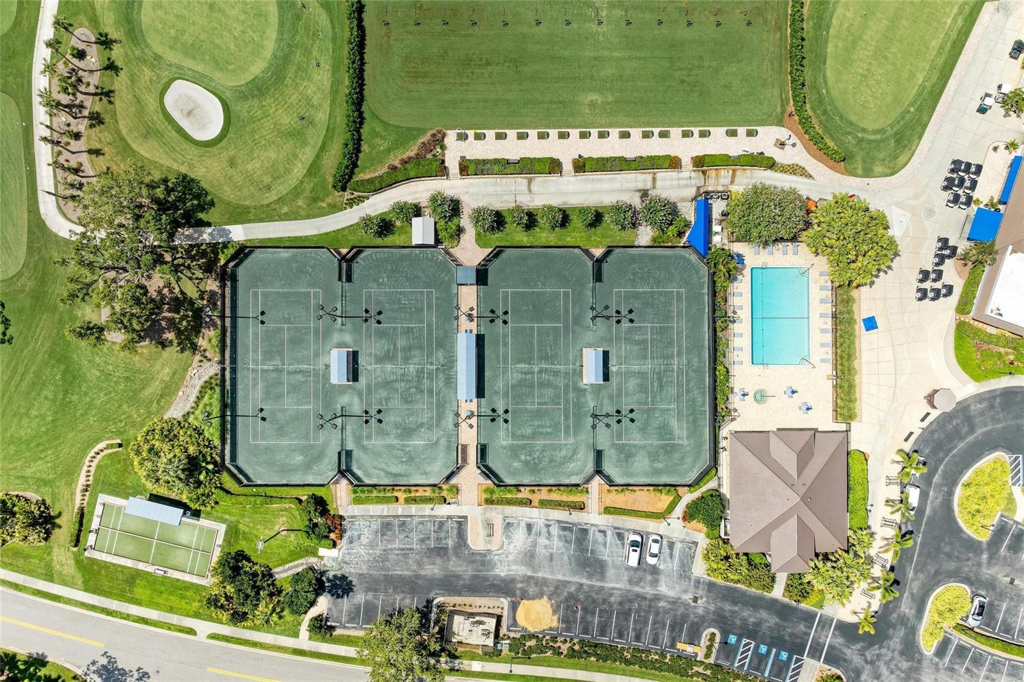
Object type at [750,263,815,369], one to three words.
swimming pool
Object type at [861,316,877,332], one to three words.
umbrella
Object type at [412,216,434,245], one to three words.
shed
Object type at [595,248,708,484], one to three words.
tennis court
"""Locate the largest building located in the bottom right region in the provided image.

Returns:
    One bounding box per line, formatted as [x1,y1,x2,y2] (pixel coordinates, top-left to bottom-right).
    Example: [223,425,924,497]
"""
[727,429,848,572]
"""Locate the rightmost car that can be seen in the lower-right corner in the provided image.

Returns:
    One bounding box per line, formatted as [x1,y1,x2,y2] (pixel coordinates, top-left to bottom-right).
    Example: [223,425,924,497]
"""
[965,594,985,627]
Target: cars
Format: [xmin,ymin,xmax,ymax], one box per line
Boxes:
[625,533,642,567]
[645,533,661,565]
[965,594,985,627]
